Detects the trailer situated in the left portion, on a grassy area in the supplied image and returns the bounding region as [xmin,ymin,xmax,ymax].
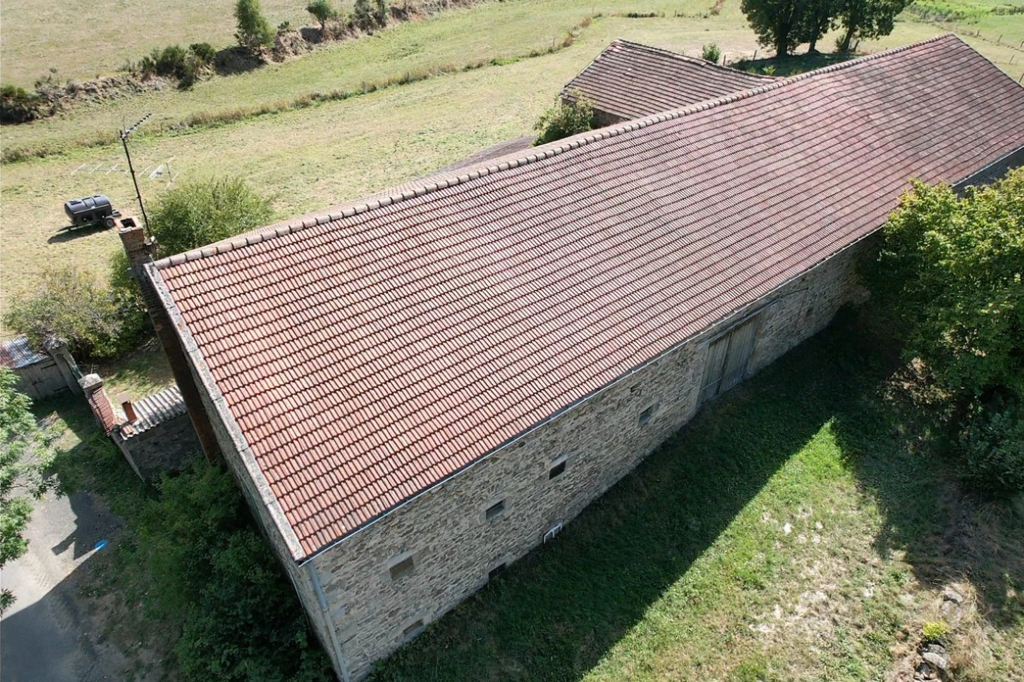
[51,192,121,229]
